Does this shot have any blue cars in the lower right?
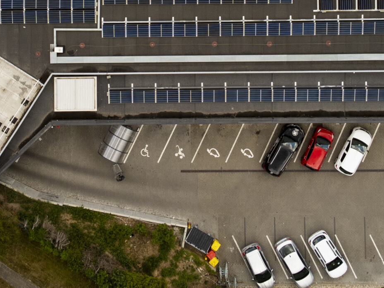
No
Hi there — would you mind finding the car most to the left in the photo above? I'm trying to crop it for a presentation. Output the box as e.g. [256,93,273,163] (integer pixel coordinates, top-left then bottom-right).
[244,238,281,288]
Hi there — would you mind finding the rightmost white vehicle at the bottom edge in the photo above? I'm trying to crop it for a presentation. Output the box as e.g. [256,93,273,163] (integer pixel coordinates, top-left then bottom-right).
[309,226,348,280]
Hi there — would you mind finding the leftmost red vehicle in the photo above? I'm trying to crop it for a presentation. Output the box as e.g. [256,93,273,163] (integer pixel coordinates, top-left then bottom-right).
[300,126,334,171]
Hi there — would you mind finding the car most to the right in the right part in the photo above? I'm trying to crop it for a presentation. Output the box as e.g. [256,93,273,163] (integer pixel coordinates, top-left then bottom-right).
[333,126,372,177]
